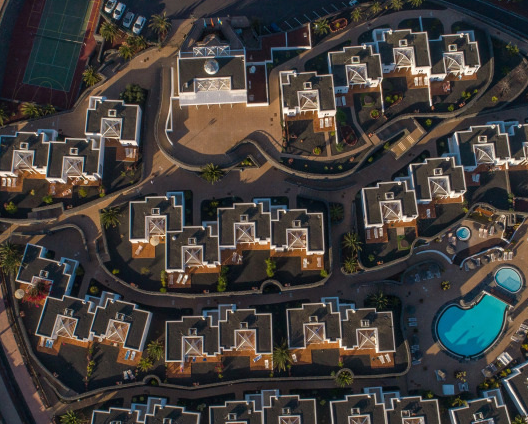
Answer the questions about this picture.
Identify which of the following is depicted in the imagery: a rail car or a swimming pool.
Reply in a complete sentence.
The one in the frame is a swimming pool.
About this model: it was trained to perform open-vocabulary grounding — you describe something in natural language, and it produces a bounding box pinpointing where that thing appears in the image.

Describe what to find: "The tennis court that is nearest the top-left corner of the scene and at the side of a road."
[0,0,100,106]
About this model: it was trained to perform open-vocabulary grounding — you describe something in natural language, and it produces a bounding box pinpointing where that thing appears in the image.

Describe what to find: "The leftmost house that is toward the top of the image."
[0,126,58,192]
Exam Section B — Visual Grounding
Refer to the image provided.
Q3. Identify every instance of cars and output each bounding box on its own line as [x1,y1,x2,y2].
[132,14,147,33]
[120,9,136,28]
[345,0,362,9]
[103,0,118,13]
[112,2,127,19]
